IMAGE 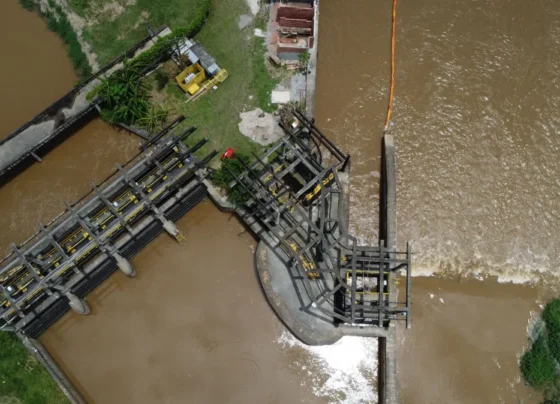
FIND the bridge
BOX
[0,115,220,344]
